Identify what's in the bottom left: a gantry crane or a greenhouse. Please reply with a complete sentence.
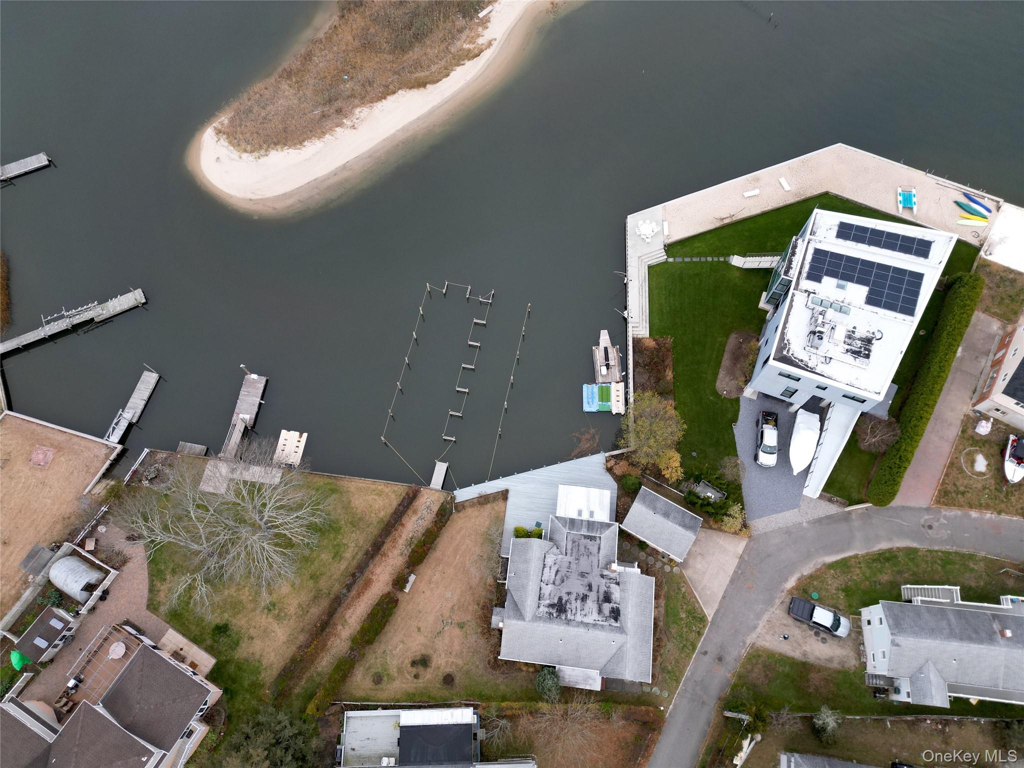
You can see a greenhouse in the bottom left.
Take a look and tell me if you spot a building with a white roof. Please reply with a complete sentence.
Yes, the photo shows a building with a white roof.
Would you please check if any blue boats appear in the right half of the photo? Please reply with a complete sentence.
Yes, you'll find a blue boat in the right half of the photo.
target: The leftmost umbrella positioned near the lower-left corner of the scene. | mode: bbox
[9,649,39,669]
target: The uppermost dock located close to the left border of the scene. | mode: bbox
[0,152,50,183]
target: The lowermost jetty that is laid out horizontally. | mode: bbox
[176,442,208,457]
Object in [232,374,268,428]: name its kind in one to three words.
pier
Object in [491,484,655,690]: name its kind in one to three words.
house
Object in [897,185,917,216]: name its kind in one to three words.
boat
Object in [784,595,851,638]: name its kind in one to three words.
truck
